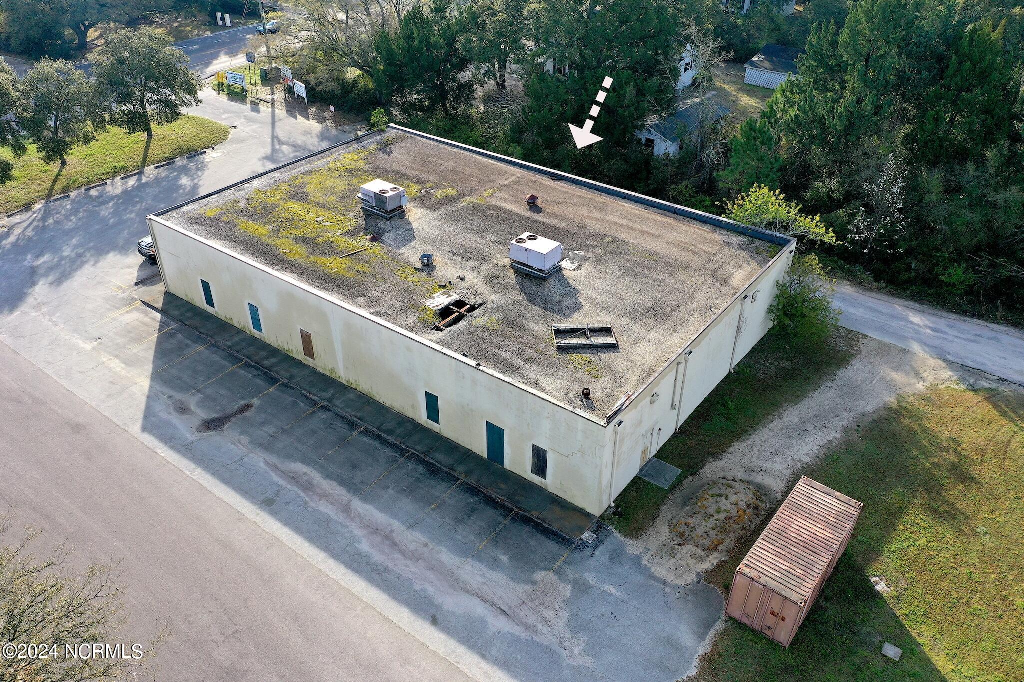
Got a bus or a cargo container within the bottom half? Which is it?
cargo container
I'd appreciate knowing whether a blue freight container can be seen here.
No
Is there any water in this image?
No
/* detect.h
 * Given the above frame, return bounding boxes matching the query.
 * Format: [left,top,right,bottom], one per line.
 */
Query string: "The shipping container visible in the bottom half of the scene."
[726,477,863,649]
